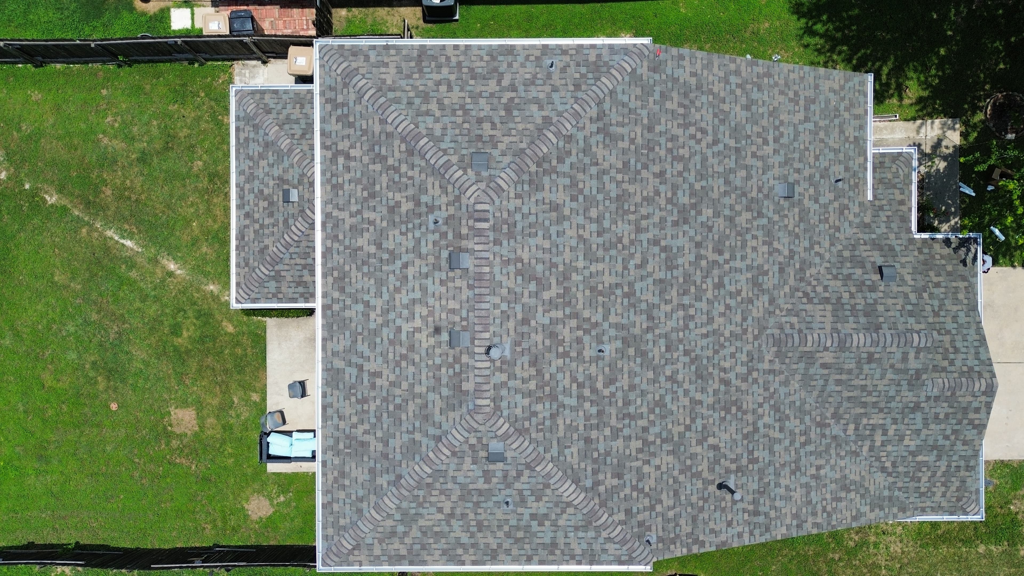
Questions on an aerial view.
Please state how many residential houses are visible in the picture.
1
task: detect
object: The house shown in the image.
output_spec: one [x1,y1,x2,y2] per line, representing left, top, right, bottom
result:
[229,38,998,573]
